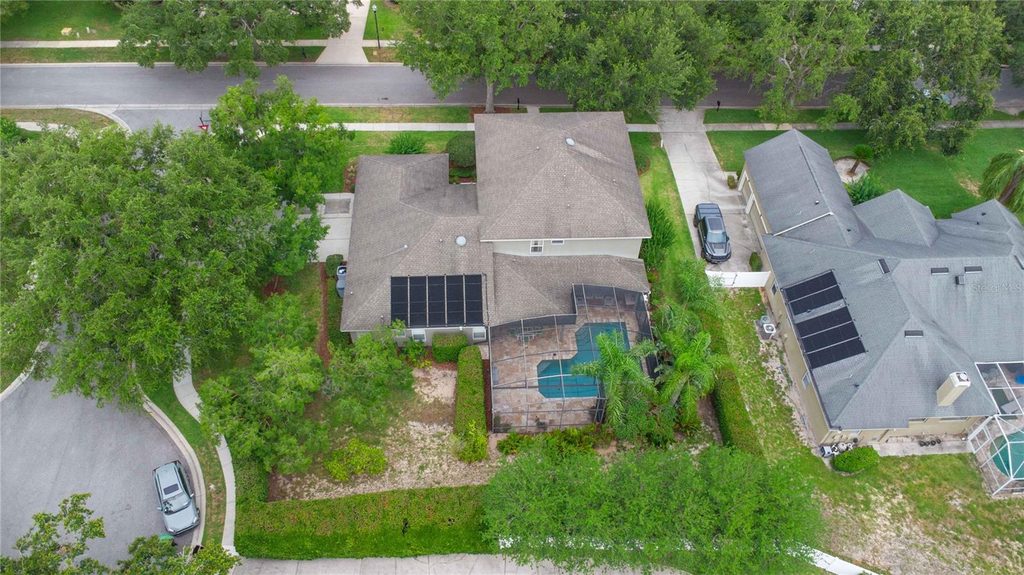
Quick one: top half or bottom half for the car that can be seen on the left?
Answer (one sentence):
It is in the bottom half that the car that can be seen on the left appears.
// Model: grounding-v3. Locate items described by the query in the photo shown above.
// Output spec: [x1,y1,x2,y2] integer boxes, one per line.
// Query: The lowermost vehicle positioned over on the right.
[695,205,731,263]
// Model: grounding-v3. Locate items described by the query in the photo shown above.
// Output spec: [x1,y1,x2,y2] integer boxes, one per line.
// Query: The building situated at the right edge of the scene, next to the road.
[741,132,1024,445]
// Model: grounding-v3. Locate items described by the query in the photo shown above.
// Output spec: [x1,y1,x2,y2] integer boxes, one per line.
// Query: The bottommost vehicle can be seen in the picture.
[154,464,199,538]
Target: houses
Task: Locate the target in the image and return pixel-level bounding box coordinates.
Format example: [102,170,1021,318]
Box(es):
[340,110,652,348]
[741,132,1024,445]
